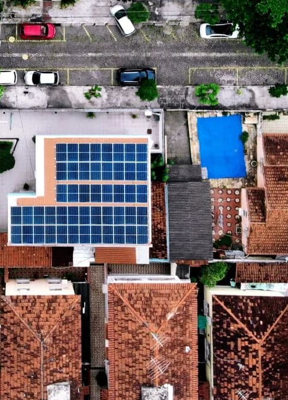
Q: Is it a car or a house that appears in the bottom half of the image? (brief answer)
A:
house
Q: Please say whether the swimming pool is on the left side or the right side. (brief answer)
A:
right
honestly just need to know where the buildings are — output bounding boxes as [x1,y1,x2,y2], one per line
[234,134,288,255]
[229,256,288,283]
[0,284,81,400]
[8,132,150,246]
[165,179,213,261]
[104,277,199,400]
[201,284,288,400]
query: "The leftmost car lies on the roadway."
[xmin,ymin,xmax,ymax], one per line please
[0,70,20,87]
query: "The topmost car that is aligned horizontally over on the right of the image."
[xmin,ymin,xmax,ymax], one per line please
[200,22,238,40]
